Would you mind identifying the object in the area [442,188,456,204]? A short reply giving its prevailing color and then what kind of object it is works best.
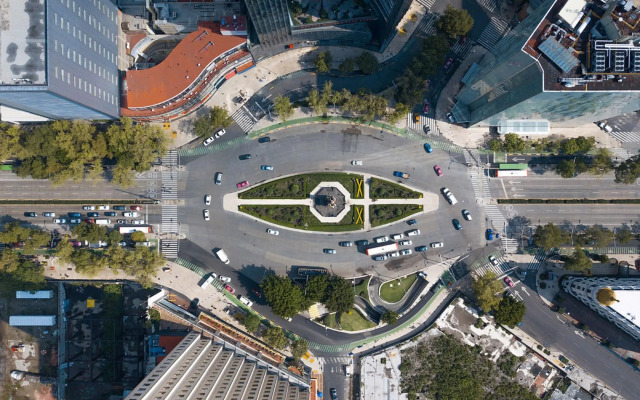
white vehicle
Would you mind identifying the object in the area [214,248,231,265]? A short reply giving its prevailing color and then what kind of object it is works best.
white vehicle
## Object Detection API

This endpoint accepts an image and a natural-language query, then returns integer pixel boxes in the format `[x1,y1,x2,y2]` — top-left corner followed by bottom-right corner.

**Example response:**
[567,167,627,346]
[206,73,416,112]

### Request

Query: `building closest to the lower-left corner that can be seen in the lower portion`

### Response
[9,314,58,326]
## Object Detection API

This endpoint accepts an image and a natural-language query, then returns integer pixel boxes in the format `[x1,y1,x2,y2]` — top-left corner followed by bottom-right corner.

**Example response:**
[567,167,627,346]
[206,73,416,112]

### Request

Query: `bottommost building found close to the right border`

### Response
[561,276,640,344]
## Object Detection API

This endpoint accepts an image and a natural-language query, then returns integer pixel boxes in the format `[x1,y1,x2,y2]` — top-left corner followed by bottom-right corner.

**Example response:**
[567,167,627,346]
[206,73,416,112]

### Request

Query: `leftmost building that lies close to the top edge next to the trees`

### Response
[0,0,120,121]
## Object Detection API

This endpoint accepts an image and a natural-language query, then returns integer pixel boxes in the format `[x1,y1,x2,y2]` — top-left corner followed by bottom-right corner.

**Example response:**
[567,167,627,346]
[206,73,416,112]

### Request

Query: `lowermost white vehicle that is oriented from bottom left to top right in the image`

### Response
[198,272,218,291]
